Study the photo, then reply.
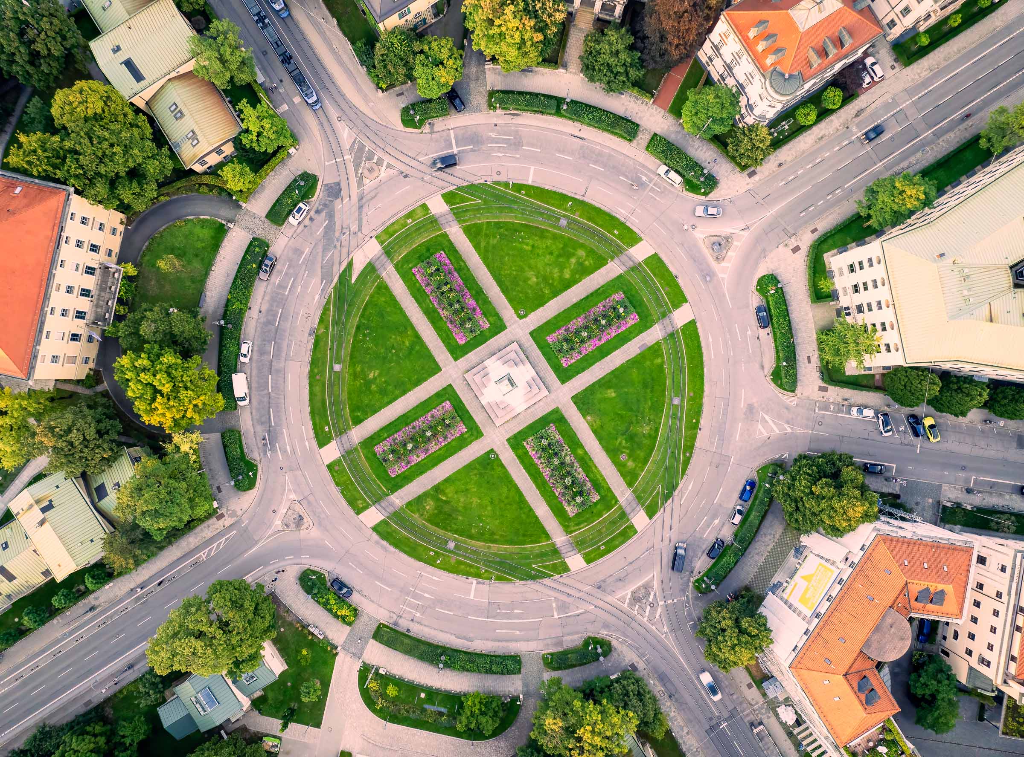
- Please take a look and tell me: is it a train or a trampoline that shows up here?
train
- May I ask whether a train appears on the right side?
No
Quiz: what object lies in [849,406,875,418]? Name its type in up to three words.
vehicle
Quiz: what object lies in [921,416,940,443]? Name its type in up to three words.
car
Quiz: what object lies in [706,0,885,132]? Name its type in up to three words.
building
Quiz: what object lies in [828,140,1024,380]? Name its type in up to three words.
building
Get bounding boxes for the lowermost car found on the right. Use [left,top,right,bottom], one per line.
[701,671,720,700]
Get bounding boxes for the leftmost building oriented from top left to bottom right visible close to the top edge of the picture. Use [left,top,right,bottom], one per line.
[81,0,249,172]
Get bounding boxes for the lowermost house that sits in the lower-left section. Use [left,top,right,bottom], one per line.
[161,651,291,741]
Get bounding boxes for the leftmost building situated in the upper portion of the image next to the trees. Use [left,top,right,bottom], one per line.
[0,172,131,384]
